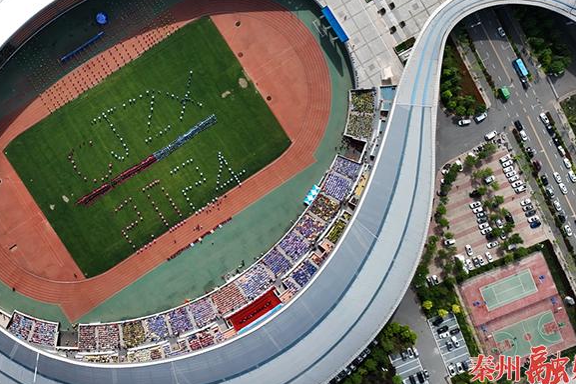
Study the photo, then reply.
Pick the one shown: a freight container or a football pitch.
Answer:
football pitch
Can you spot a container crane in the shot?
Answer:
No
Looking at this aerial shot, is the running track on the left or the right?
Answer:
left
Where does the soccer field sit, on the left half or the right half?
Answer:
left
